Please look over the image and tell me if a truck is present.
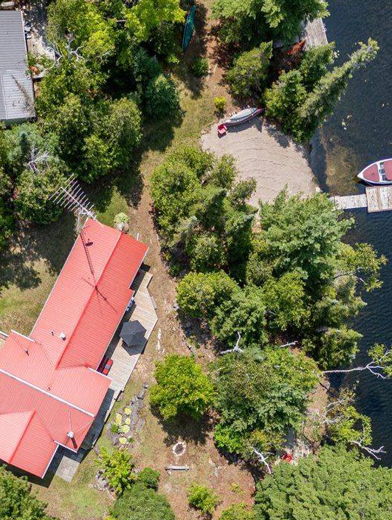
No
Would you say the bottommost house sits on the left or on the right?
left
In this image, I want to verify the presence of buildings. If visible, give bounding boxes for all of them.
[0,218,148,478]
[0,10,36,123]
